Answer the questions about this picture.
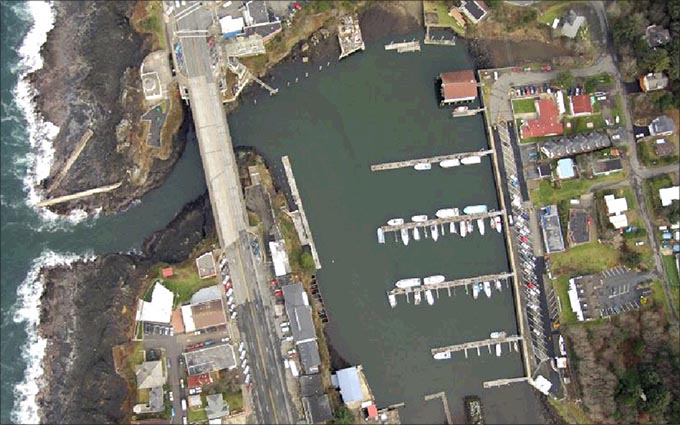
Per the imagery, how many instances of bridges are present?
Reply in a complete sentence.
The picture shows just 1 bridge.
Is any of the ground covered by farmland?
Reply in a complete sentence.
No, the scene doesn't show any farmland.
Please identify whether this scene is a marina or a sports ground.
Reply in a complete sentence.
It's a marina.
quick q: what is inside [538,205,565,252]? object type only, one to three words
building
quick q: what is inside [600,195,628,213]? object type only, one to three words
house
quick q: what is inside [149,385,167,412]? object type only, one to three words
house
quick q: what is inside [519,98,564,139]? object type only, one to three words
building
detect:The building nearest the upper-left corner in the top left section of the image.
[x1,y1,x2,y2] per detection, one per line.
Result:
[142,73,163,101]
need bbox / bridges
[189,76,250,250]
